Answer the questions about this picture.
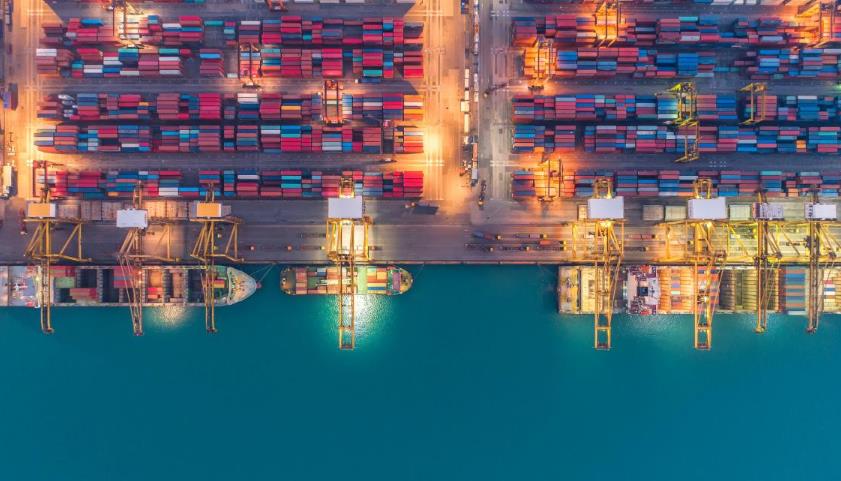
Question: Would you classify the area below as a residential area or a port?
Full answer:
What you see here is a port.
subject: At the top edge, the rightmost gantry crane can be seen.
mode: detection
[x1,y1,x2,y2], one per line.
[793,1,834,49]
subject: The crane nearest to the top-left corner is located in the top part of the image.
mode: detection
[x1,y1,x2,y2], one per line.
[113,1,147,49]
